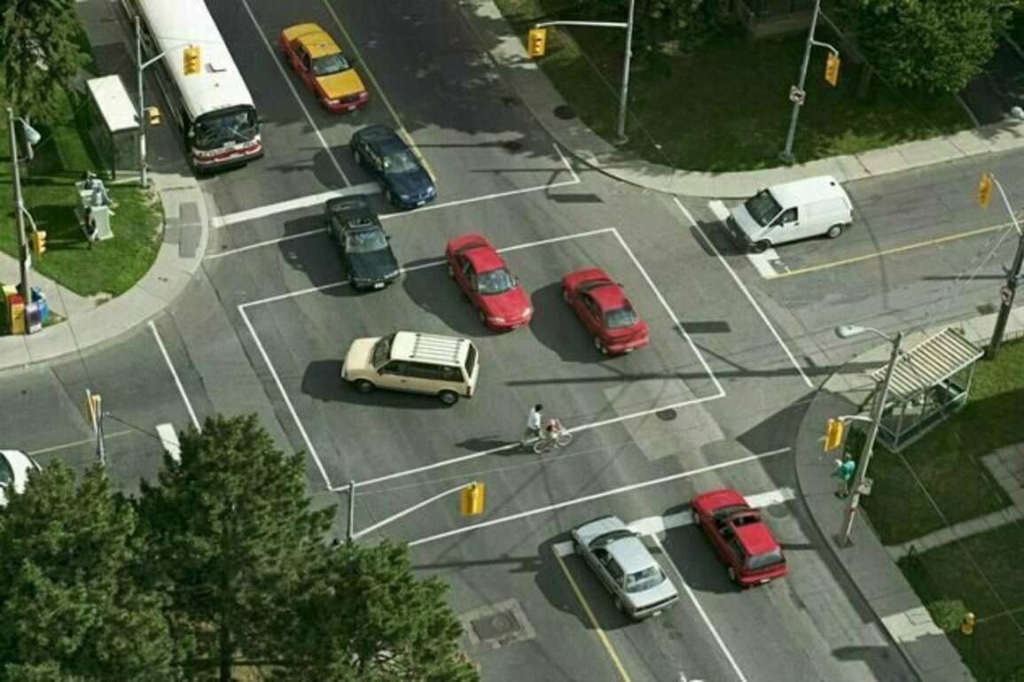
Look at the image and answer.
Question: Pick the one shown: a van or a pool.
van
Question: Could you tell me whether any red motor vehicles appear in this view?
Yes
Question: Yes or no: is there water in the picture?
No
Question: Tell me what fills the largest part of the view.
paved ground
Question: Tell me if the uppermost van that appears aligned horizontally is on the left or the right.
right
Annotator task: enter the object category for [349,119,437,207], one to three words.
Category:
car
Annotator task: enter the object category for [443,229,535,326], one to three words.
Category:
car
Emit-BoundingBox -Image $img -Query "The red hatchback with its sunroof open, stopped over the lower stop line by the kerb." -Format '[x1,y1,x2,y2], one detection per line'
[689,484,790,589]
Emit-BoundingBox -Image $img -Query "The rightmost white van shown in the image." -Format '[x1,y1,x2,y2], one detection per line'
[725,172,861,254]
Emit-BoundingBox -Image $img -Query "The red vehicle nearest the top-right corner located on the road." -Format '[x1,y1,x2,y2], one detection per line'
[558,263,655,357]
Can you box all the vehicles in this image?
[443,229,535,326]
[725,172,861,254]
[321,186,401,284]
[114,0,274,170]
[558,263,655,357]
[689,484,790,589]
[567,511,679,624]
[340,329,482,404]
[349,119,437,207]
[274,17,370,109]
[0,457,43,512]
